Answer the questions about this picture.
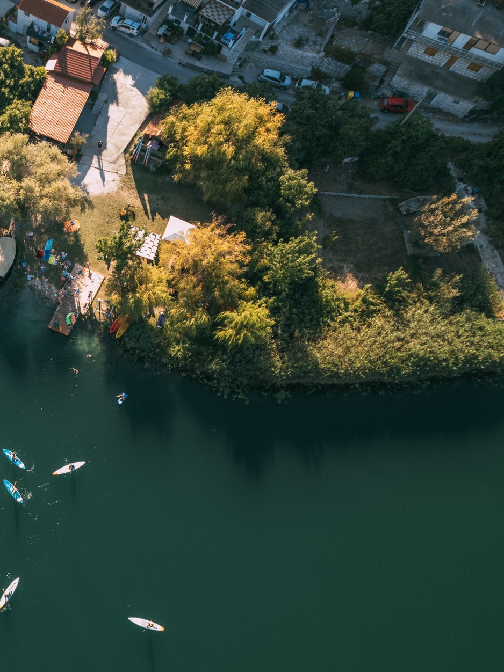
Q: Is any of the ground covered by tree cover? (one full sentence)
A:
Yes, tree cover shows up in the scene.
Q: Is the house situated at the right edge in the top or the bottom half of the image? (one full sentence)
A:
The top half of the photo is where the house situated at the right edge is.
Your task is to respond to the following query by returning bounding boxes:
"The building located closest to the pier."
[123,227,161,268]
